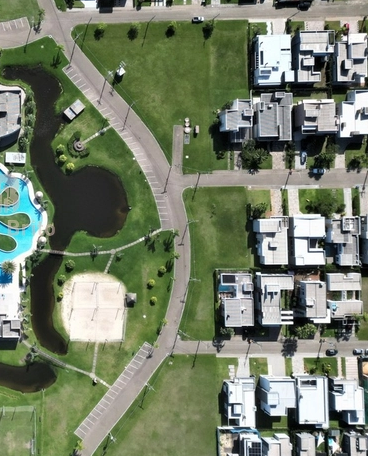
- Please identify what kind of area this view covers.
residential area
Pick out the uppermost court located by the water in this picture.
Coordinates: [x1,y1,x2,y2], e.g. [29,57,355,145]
[62,273,126,342]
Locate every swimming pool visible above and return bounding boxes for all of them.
[219,283,232,292]
[0,169,44,283]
